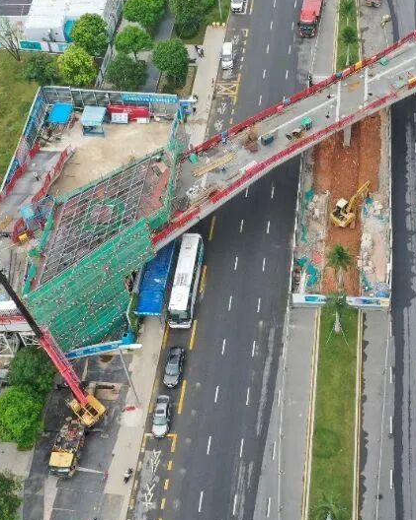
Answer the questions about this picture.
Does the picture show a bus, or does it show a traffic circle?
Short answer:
bus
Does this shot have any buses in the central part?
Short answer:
Yes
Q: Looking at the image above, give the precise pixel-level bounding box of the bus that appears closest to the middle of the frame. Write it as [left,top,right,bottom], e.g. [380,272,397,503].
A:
[161,235,203,333]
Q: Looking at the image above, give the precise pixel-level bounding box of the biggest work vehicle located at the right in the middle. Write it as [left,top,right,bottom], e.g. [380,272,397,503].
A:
[324,179,375,232]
